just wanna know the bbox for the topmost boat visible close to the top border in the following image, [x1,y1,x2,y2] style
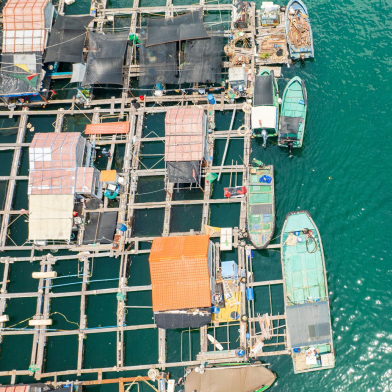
[285,0,313,70]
